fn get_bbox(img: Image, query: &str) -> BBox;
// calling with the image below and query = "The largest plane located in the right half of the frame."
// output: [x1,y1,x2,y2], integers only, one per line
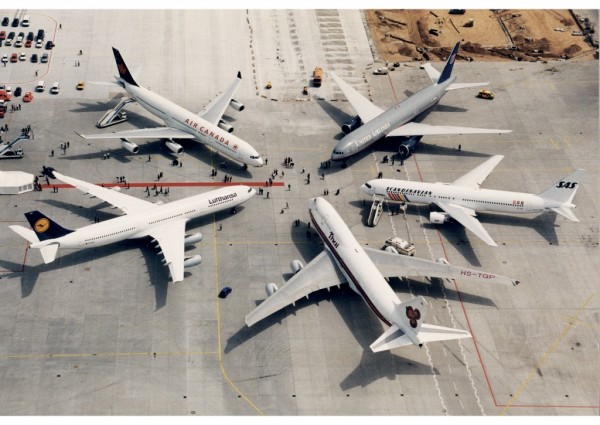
[244,196,519,353]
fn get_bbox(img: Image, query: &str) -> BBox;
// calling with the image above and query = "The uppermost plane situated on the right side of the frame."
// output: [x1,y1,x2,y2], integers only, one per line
[332,40,516,166]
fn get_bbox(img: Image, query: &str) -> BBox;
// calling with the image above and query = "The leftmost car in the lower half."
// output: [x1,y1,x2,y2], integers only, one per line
[216,285,233,298]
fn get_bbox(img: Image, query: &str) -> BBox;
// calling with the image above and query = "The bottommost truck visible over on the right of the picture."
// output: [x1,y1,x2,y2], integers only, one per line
[384,237,417,259]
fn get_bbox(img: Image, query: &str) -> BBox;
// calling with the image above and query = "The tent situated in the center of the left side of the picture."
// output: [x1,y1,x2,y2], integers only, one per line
[0,170,35,195]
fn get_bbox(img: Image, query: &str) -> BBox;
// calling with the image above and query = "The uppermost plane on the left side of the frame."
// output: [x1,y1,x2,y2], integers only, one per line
[73,47,270,172]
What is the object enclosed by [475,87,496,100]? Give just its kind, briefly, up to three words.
vehicle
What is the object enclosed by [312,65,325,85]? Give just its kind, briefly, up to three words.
vehicle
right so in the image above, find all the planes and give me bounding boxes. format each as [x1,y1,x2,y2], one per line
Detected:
[73,47,270,172]
[332,40,516,166]
[7,167,257,284]
[360,154,585,246]
[244,196,519,353]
